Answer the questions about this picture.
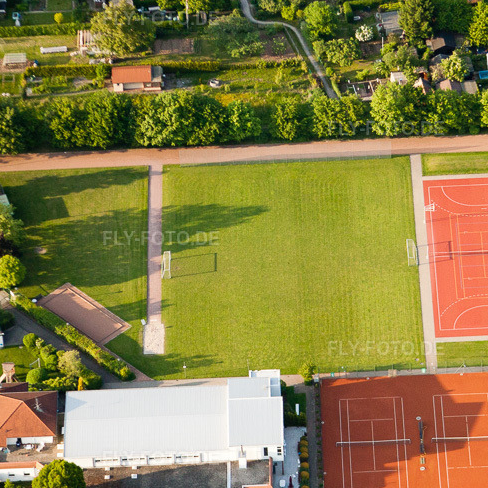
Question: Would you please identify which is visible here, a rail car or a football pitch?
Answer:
football pitch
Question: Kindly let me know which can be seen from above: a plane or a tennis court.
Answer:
tennis court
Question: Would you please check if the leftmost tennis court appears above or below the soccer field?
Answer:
below it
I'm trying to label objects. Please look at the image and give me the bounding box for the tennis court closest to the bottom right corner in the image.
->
[428,389,488,488]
